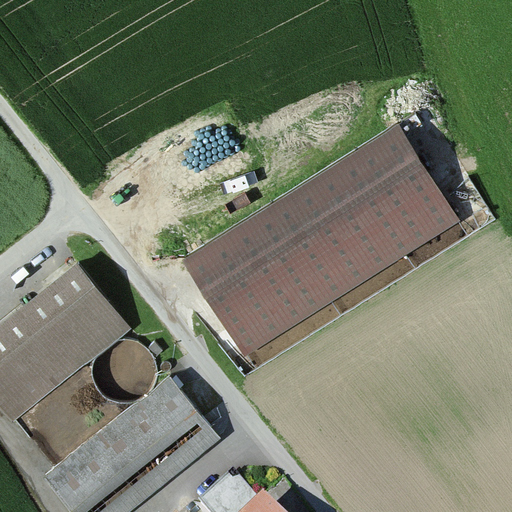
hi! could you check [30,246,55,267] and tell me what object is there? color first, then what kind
white vehicle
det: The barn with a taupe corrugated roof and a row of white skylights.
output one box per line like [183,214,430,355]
[0,262,133,420]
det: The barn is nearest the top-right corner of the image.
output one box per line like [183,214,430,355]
[184,123,459,354]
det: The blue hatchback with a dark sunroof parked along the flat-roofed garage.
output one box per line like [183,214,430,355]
[196,475,216,494]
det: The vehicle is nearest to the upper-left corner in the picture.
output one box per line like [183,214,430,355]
[110,184,133,205]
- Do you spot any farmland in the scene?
Yes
